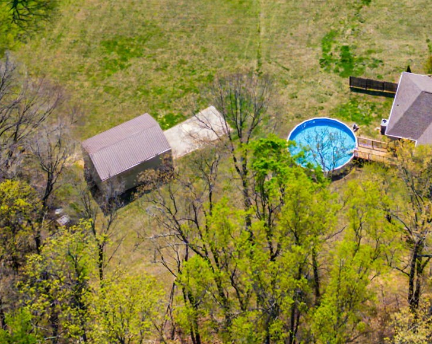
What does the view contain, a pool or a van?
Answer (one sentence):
The one in the frame is a pool.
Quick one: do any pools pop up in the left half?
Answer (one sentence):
No, there is no pool in the left half.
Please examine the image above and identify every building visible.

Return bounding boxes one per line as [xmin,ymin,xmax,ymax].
[83,114,173,198]
[385,69,432,172]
